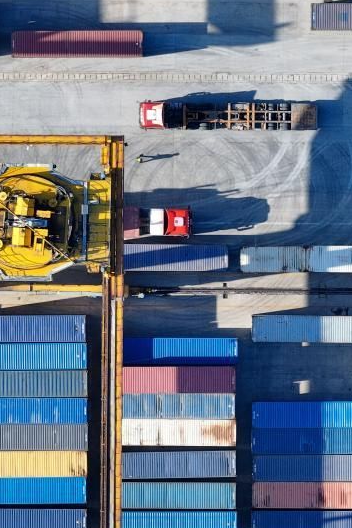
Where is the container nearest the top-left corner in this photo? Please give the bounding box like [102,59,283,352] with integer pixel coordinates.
[12,30,143,57]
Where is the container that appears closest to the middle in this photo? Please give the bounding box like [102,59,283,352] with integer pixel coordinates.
[123,244,228,271]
